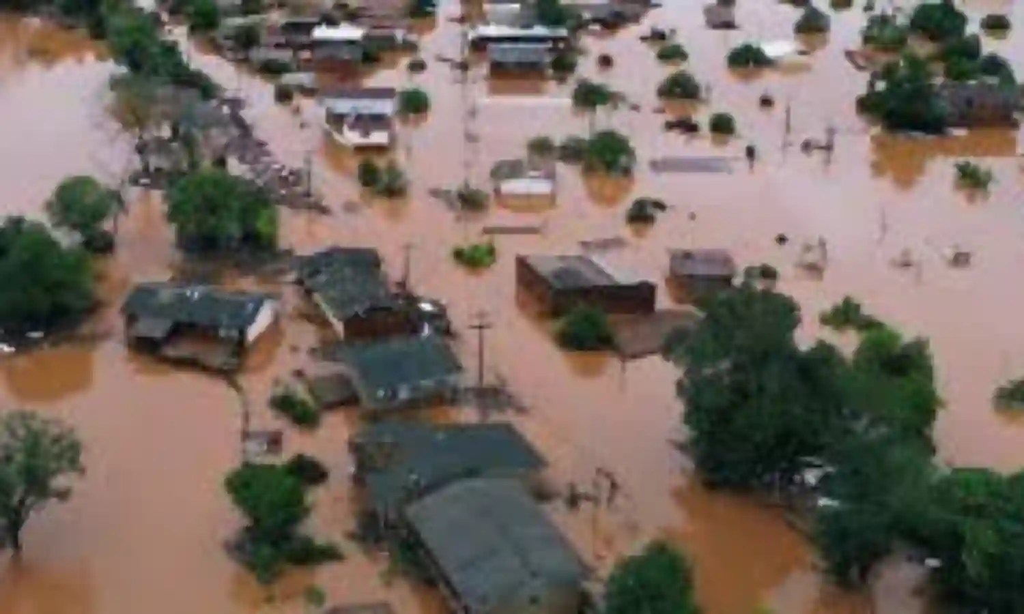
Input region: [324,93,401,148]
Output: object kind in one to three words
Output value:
house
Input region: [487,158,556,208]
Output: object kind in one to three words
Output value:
house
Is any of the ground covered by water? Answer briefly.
Yes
